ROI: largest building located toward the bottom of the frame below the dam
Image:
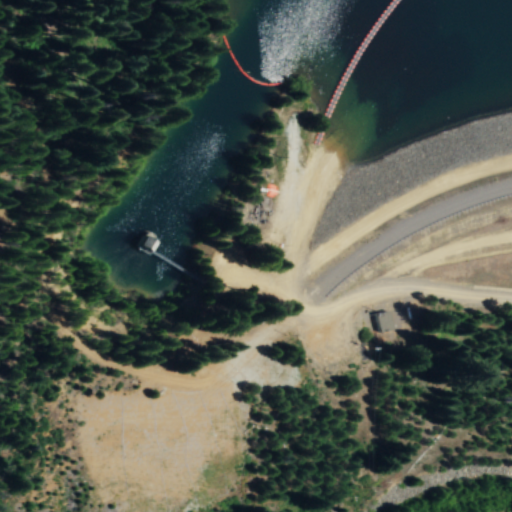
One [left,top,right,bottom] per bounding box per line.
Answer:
[378,312,396,332]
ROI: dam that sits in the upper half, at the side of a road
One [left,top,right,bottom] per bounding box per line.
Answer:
[311,113,512,294]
